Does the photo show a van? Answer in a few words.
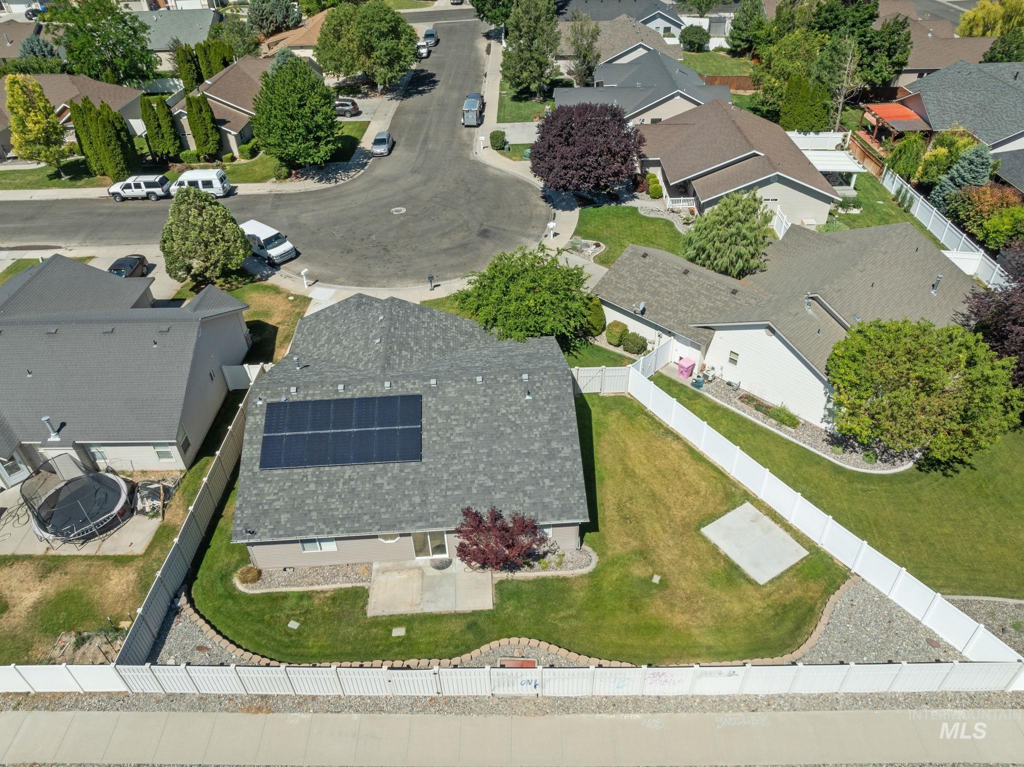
Yes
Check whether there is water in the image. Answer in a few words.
No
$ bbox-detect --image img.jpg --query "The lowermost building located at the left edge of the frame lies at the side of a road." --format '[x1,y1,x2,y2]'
[0,250,258,495]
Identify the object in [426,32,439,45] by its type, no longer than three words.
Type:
vehicle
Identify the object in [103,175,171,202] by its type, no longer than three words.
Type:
car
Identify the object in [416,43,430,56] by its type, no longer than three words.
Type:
vehicle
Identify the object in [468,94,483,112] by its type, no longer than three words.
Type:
car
